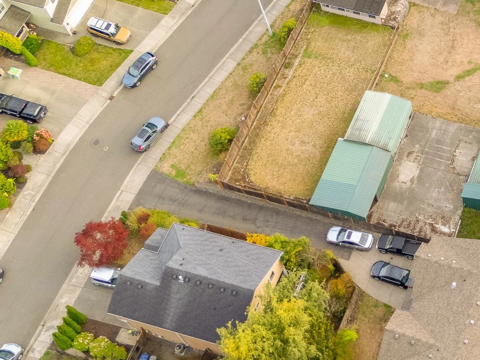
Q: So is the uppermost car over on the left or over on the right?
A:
left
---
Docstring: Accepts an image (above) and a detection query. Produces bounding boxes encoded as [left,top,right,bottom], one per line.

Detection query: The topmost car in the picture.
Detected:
[85,15,132,44]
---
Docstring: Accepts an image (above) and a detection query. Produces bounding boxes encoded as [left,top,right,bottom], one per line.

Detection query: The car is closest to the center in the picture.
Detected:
[130,117,167,154]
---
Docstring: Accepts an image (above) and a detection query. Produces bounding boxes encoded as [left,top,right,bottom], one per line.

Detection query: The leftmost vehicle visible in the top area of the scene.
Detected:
[0,94,48,122]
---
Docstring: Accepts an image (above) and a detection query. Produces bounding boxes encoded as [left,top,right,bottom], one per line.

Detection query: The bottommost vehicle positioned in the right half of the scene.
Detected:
[368,263,412,292]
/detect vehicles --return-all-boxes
[326,228,375,254]
[85,15,132,44]
[0,94,48,122]
[0,344,26,360]
[123,50,158,87]
[82,264,126,289]
[130,117,167,154]
[368,263,412,292]
[373,233,426,262]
